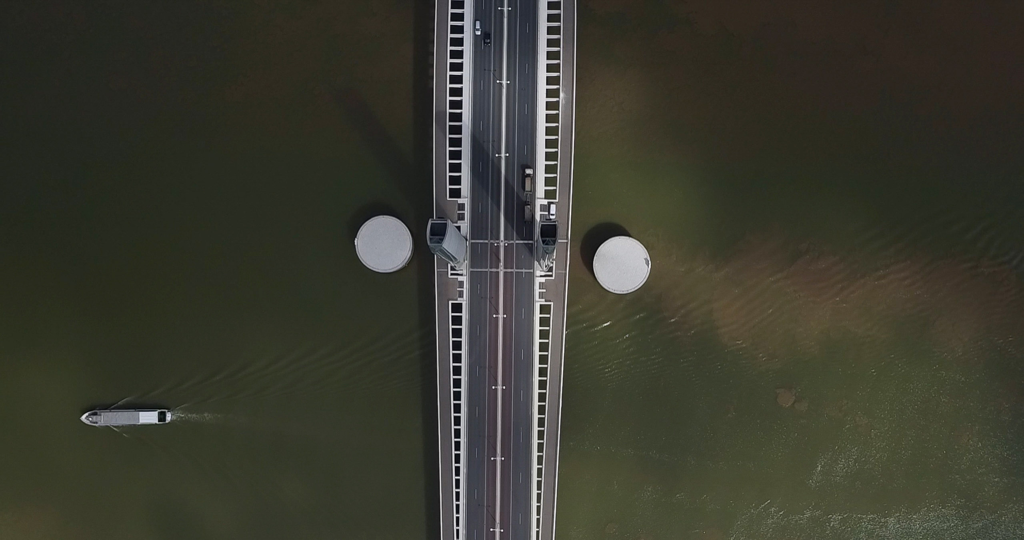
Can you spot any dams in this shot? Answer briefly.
No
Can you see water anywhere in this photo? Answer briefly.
Yes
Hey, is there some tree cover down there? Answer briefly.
No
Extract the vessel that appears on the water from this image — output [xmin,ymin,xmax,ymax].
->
[79,409,173,425]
